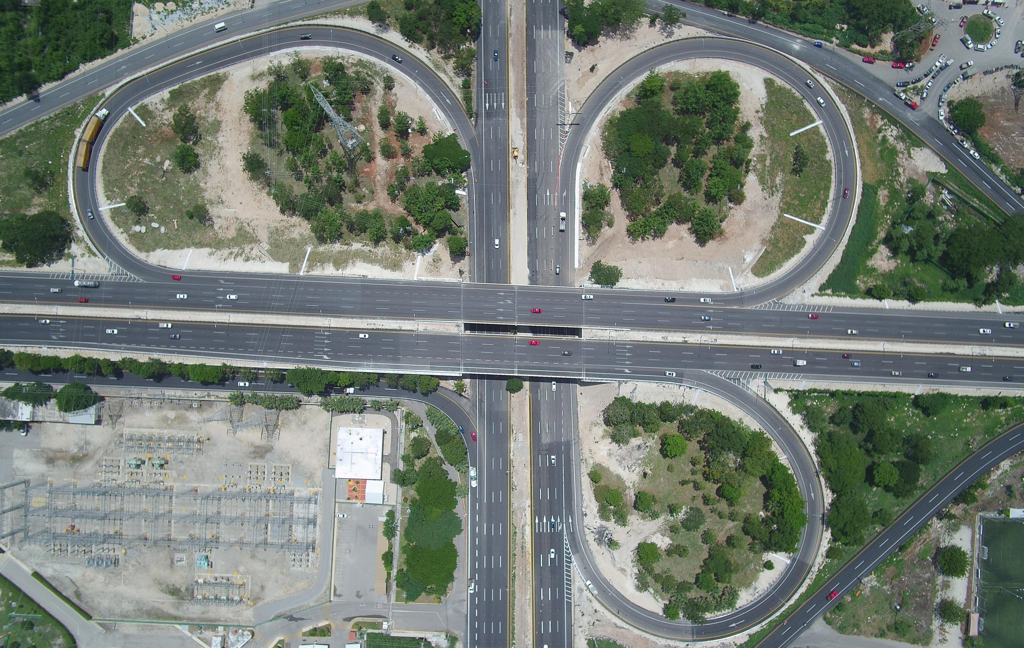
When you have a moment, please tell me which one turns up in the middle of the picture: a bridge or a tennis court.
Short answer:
bridge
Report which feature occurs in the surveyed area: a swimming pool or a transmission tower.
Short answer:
transmission tower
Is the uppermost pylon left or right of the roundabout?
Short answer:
to its left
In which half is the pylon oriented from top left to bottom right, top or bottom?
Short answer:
top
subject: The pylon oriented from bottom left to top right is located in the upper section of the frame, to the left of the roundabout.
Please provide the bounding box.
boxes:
[886,0,960,44]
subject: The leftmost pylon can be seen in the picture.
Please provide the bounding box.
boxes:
[61,400,123,420]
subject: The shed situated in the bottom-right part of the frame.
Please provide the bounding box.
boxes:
[962,610,979,636]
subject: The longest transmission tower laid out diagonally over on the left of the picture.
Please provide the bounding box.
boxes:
[307,84,369,155]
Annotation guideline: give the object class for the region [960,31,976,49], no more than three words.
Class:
vehicle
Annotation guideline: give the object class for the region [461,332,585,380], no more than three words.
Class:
bridge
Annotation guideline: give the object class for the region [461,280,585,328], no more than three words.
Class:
bridge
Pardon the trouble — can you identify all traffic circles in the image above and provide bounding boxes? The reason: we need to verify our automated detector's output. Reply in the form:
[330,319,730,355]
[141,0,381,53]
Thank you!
[964,13,995,44]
